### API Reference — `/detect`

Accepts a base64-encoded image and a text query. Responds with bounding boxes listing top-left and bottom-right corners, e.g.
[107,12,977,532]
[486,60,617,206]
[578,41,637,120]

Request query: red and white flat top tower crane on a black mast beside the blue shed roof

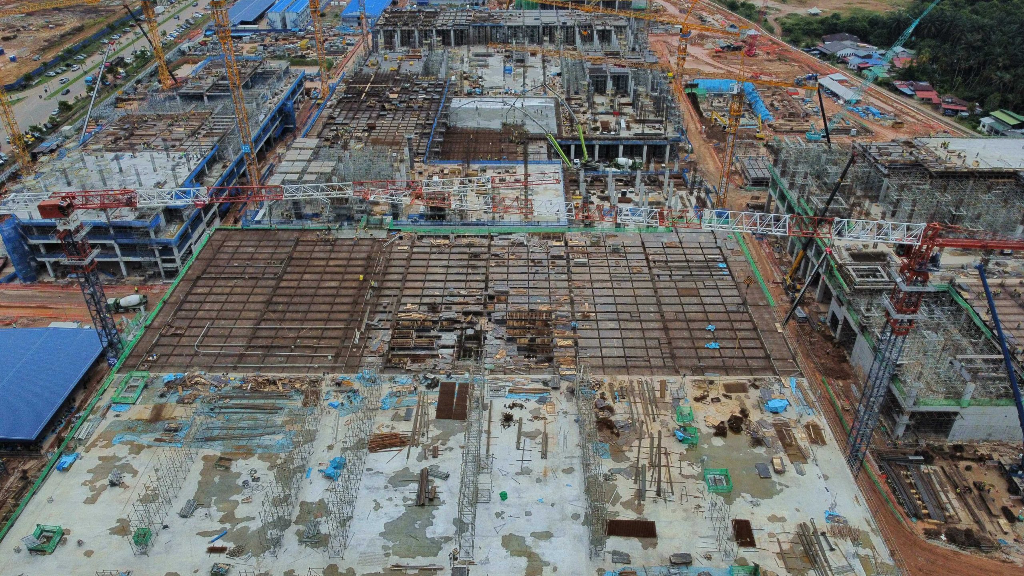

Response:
[0,168,561,370]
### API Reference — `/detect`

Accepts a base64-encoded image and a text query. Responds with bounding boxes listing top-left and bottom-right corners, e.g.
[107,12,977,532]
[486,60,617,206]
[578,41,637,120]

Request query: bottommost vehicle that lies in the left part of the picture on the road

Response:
[102,291,150,312]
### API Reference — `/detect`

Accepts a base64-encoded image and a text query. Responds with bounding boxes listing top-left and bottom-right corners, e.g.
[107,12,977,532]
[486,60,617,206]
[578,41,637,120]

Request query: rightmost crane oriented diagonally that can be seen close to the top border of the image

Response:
[802,0,937,144]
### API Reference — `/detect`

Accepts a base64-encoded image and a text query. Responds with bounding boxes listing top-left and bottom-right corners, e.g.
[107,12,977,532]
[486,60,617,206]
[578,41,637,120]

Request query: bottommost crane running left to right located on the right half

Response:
[362,180,1024,482]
